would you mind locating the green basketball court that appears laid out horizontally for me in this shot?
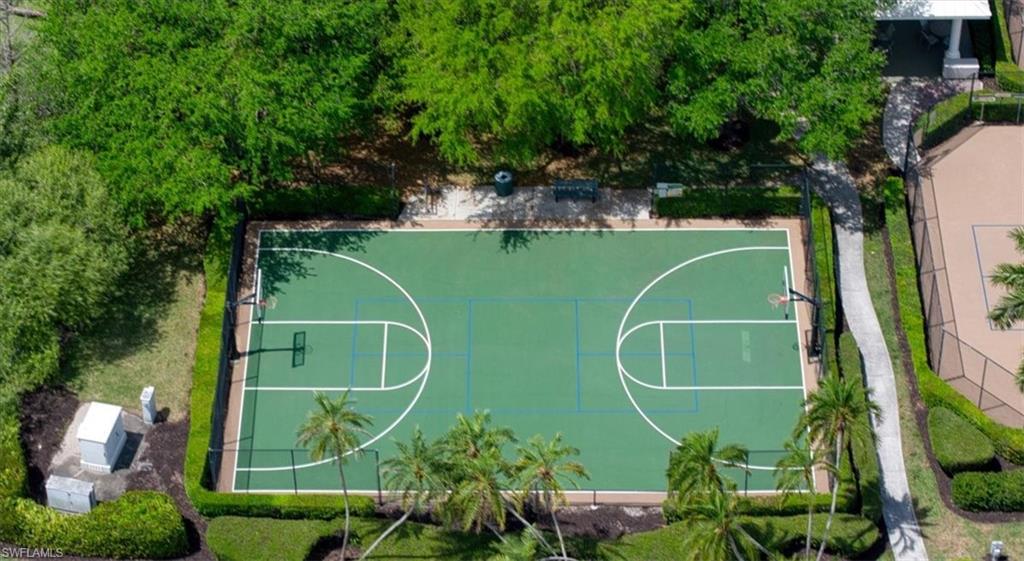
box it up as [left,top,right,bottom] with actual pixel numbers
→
[219,218,828,505]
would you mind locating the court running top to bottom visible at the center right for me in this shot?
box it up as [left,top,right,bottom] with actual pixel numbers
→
[906,120,1024,428]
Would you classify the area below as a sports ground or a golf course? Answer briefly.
sports ground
